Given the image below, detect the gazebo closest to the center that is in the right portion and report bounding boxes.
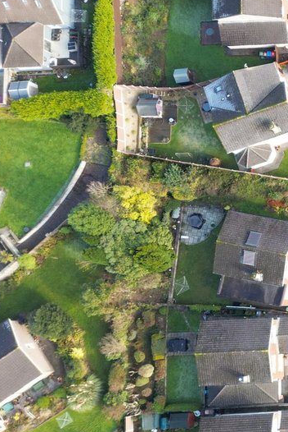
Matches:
[188,213,205,229]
